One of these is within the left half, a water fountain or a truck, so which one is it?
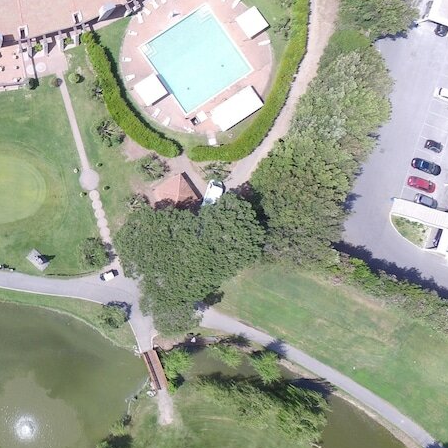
water fountain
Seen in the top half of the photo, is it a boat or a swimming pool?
swimming pool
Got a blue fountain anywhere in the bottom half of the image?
No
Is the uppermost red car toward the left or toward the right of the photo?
right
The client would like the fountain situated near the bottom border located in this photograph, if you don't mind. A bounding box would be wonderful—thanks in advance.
[8,416,37,440]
